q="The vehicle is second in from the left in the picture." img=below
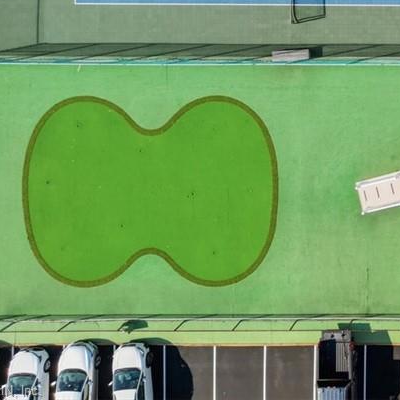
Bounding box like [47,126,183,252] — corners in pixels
[52,339,100,400]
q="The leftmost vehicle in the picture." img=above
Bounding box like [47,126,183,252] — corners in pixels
[3,344,52,400]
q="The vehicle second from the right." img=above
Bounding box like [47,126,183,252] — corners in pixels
[107,339,154,400]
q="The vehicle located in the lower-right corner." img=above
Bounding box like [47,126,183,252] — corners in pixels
[318,331,357,400]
